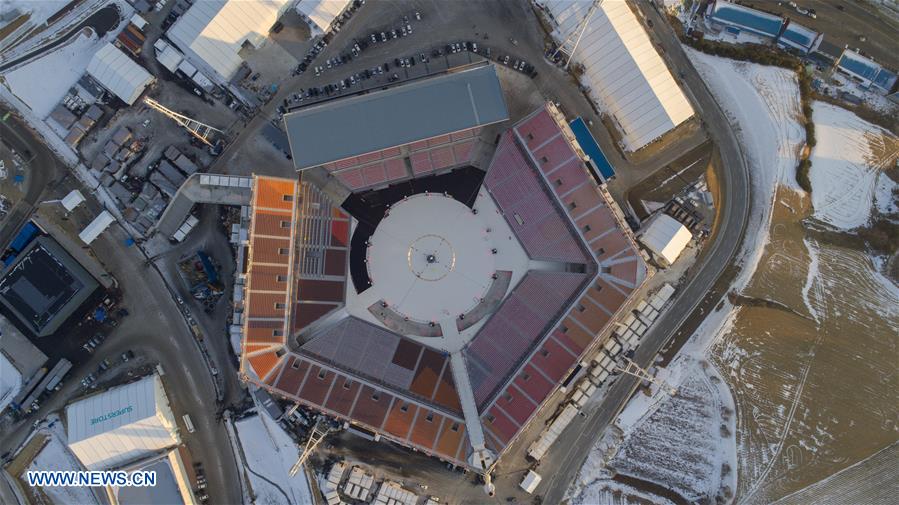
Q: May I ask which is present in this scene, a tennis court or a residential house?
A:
residential house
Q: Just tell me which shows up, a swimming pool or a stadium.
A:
stadium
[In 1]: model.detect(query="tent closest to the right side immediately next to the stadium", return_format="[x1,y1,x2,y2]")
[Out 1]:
[637,213,693,264]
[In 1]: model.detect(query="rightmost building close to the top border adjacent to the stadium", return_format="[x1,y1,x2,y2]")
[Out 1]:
[525,0,695,154]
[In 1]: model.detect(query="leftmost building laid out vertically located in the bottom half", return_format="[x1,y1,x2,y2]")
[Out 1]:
[0,351,28,418]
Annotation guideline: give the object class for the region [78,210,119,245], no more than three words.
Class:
tent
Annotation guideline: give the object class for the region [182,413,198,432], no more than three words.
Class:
vehicle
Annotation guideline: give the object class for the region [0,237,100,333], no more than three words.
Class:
building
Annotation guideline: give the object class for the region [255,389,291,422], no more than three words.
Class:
shed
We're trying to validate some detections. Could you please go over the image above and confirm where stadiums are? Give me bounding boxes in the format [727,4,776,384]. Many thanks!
[239,58,651,476]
